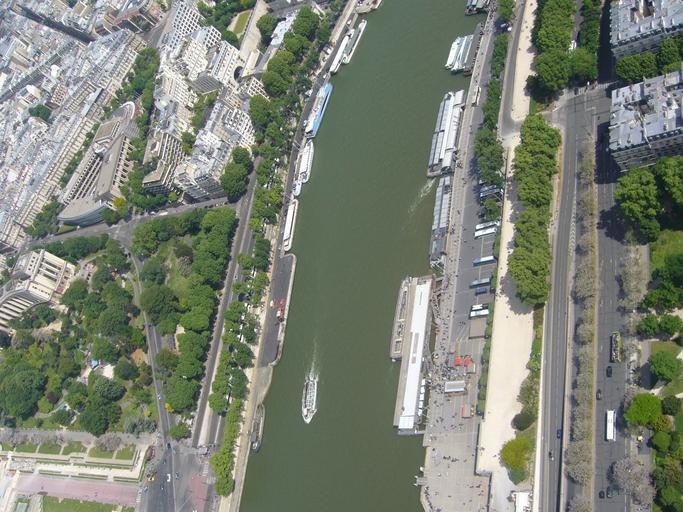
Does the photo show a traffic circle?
No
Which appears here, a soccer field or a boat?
boat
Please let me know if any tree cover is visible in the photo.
Yes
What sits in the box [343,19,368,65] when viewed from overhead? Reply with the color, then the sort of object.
white ship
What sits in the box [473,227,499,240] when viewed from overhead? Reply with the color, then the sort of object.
white vehicle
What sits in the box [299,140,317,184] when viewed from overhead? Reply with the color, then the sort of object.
white boat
